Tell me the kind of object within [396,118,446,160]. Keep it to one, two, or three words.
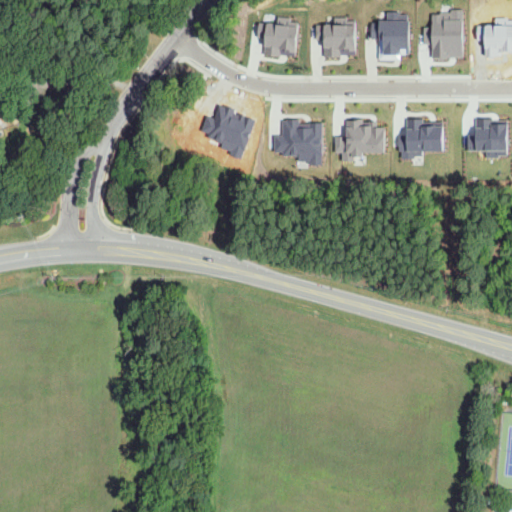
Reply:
house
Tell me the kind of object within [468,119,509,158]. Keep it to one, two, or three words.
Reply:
house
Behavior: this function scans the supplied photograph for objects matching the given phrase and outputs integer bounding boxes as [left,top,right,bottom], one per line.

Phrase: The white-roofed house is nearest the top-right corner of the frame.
[476,18,512,57]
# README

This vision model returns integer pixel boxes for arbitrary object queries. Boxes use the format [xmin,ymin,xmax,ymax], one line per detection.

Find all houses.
[336,120,388,162]
[396,118,446,160]
[371,12,412,61]
[316,17,360,58]
[257,17,302,58]
[201,103,260,162]
[423,10,466,61]
[272,119,324,165]
[468,119,509,158]
[476,18,512,57]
